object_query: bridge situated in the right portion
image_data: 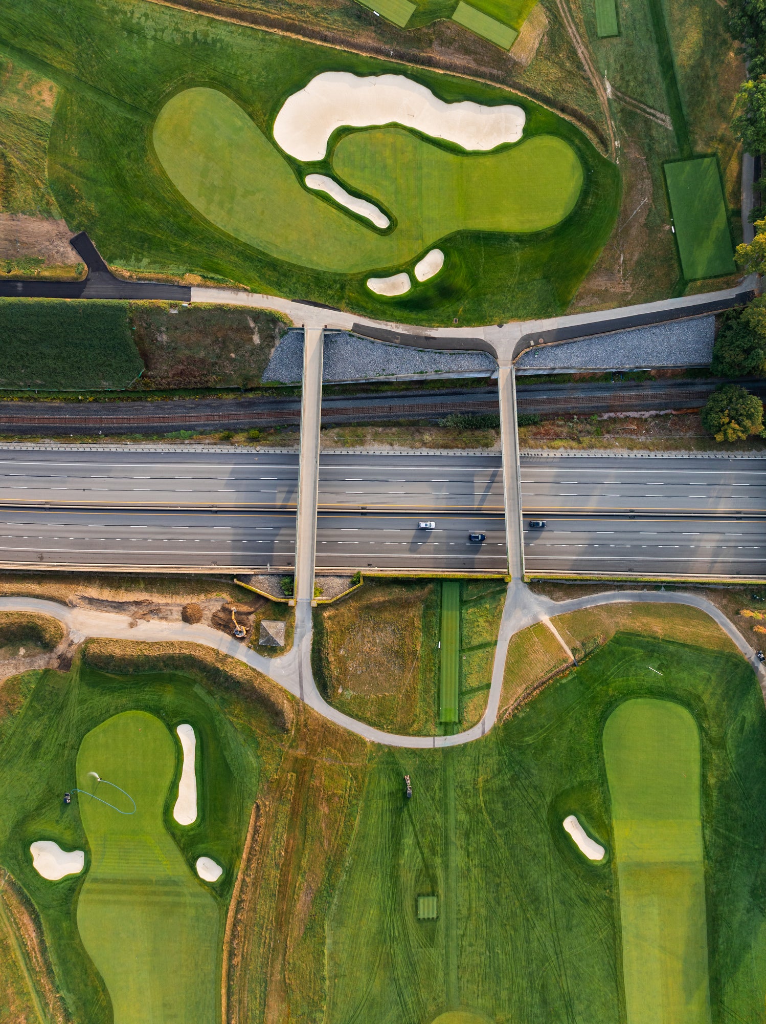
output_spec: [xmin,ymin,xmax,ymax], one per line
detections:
[492,365,526,580]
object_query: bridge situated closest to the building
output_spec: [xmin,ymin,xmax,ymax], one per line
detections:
[293,327,324,600]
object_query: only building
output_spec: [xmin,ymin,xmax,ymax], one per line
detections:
[258,621,284,648]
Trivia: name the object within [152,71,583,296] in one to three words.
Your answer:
golf course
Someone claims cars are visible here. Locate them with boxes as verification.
[469,534,486,541]
[530,520,547,528]
[419,521,436,529]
